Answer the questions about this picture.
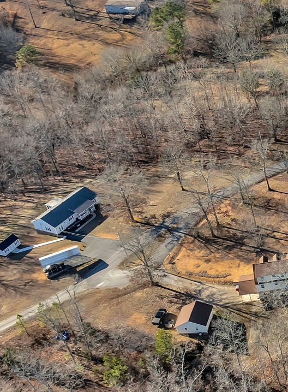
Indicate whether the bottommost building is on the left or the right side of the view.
right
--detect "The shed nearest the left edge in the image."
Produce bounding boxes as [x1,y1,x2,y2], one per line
[0,233,24,256]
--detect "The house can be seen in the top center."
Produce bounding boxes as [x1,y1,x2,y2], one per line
[104,2,146,17]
